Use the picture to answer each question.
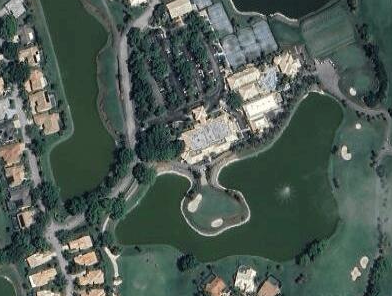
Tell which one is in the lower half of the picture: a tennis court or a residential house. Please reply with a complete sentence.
You can see a residential house in the lower half of the picture.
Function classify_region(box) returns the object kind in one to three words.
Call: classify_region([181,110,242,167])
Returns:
building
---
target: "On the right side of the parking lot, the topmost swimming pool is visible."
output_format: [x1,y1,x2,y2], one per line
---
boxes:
[259,71,277,89]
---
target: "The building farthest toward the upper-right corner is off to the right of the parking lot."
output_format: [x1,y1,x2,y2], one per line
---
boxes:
[274,45,302,76]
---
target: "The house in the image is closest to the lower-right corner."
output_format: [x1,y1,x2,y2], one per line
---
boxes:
[257,273,283,296]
